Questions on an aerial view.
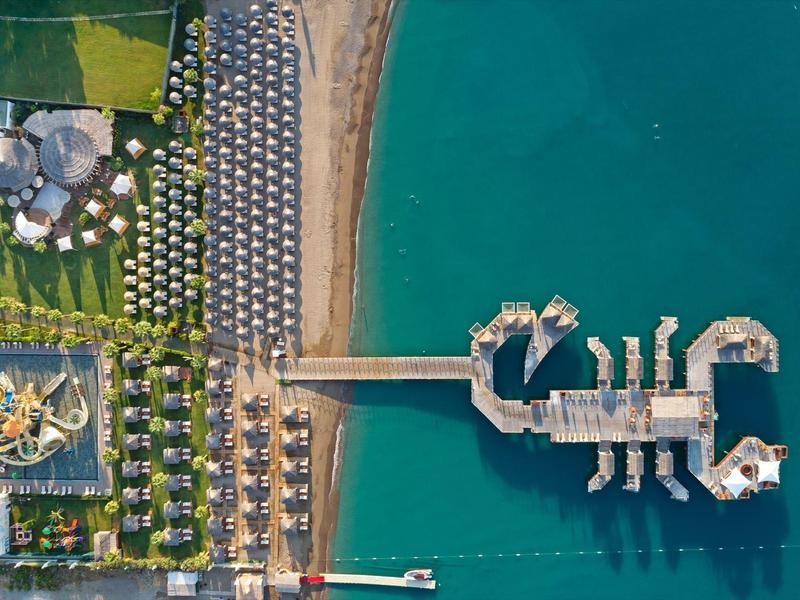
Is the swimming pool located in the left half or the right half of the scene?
left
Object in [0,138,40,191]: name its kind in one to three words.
building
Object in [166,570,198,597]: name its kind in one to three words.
shed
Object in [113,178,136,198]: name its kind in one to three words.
tent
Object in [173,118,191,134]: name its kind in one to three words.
gazebo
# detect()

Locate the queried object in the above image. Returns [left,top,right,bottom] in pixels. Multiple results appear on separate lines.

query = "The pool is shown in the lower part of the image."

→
[0,343,112,495]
